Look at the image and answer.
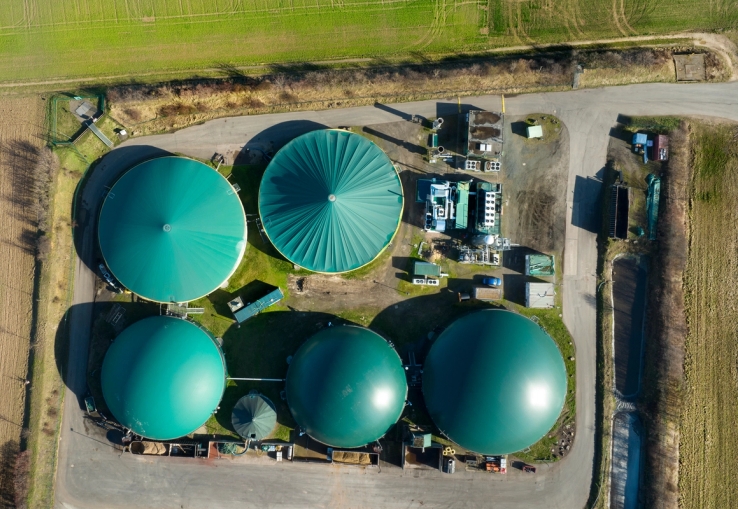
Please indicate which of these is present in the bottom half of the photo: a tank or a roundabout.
tank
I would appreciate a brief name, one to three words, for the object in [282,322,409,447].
storage tank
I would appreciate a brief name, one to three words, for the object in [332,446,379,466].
trailer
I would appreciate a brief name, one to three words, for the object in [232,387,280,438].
silo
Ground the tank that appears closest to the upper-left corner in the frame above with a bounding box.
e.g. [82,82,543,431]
[99,156,250,309]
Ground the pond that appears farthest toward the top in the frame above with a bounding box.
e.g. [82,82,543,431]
[614,254,650,402]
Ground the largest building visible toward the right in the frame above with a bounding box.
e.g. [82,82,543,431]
[466,111,504,162]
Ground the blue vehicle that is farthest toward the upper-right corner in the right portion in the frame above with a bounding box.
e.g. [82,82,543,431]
[631,132,648,162]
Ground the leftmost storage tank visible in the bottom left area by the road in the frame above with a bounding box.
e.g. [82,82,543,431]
[102,314,231,440]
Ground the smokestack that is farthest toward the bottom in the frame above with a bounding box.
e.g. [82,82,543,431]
[430,146,453,168]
